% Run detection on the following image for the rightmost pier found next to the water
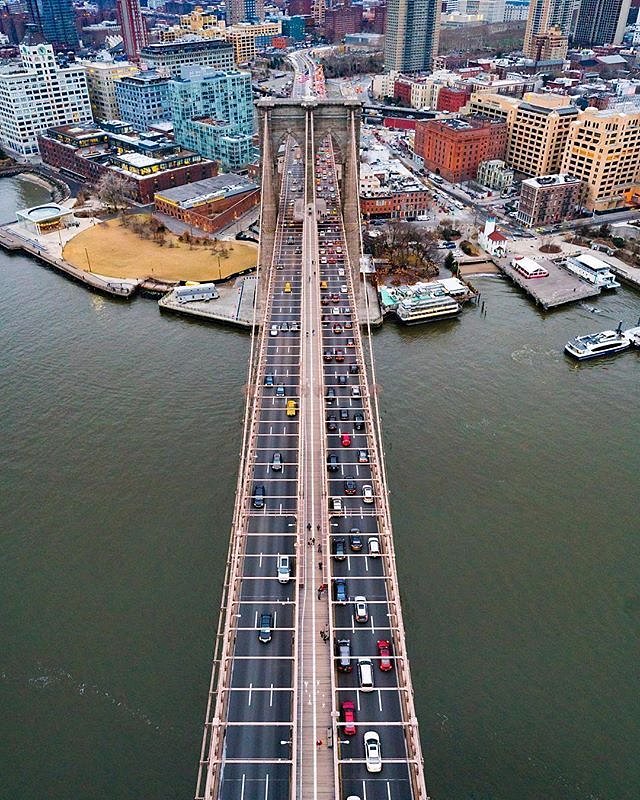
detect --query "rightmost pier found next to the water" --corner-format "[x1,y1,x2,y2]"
[490,252,603,316]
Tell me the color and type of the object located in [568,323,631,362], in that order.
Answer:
white ship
